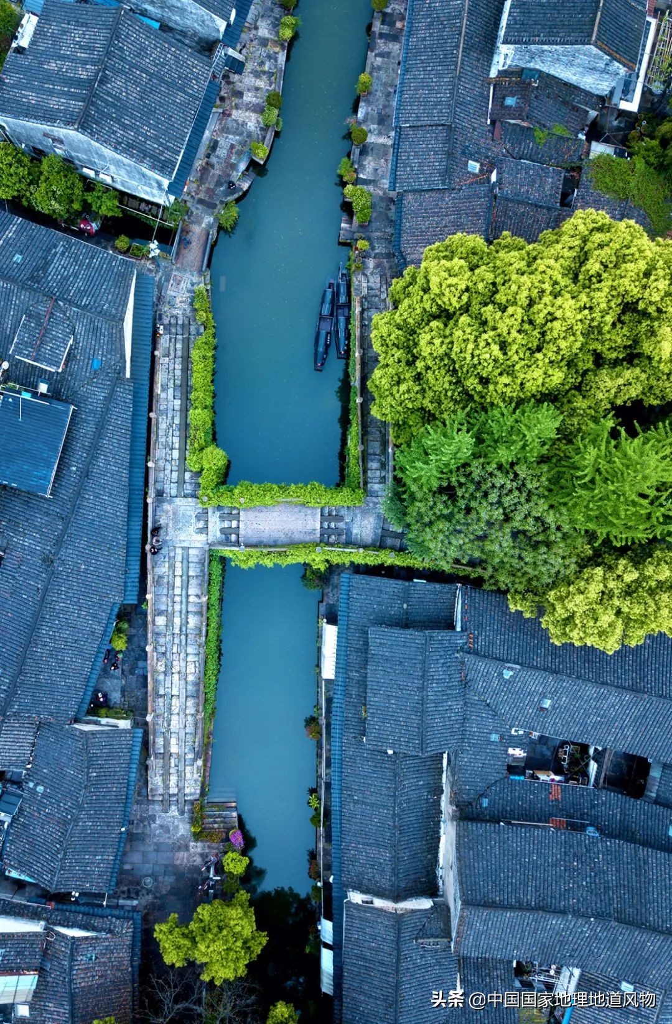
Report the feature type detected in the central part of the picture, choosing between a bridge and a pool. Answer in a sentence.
Visible in the central part of the picture is a bridge.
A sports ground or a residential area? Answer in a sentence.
It's a residential area.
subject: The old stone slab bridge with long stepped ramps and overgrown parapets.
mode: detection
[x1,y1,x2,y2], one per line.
[145,294,491,799]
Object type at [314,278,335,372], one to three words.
boat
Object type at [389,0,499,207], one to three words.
house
